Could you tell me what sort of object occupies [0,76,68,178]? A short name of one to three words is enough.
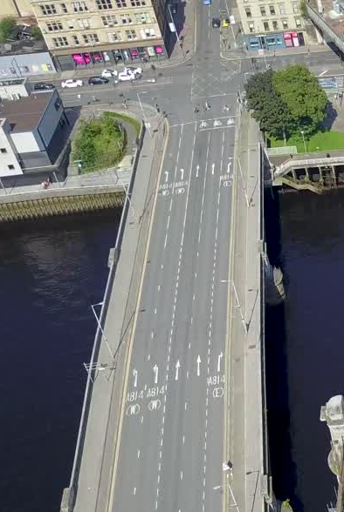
building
